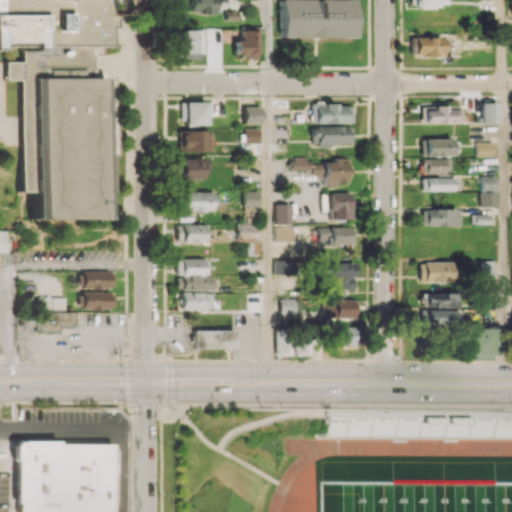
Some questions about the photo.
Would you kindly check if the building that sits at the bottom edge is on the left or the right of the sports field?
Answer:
left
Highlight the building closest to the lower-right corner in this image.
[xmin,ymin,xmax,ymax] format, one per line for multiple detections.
[476,328,500,360]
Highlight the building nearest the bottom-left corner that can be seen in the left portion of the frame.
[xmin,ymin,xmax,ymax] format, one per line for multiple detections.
[12,440,120,512]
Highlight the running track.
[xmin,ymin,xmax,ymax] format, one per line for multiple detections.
[268,439,512,512]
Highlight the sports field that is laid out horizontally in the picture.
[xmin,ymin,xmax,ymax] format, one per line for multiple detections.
[316,456,512,512]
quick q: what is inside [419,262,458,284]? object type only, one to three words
house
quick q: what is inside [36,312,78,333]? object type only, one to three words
building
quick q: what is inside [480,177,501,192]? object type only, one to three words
building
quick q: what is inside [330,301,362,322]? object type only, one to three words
house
